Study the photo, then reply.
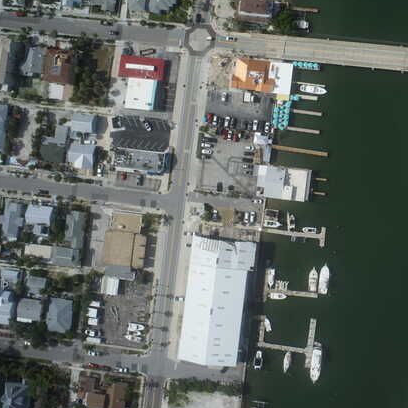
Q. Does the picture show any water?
Yes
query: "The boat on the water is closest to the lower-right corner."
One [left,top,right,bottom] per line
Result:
[310,343,323,382]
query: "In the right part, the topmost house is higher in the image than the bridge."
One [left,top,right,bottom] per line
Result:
[236,0,275,25]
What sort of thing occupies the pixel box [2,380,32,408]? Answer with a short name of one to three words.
house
